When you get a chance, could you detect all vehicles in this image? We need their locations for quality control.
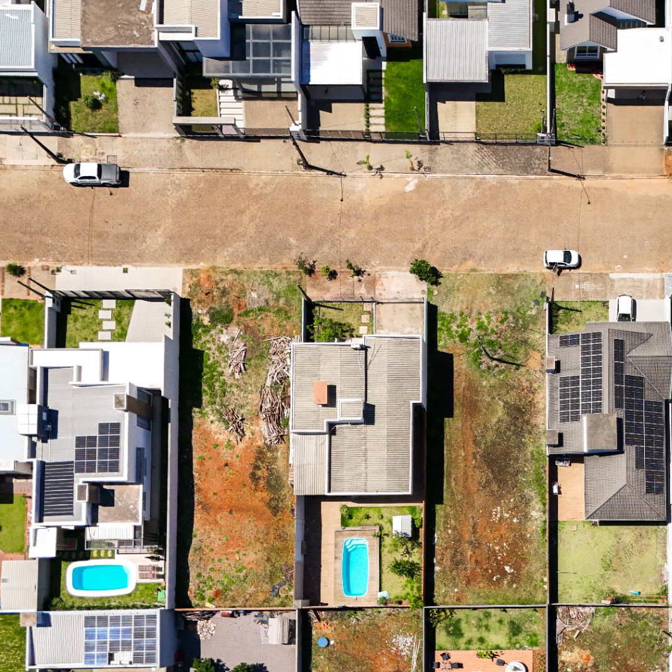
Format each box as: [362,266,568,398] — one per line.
[615,289,635,322]
[62,159,118,185]
[543,249,579,277]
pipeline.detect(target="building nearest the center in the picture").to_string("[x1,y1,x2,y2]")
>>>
[291,335,427,497]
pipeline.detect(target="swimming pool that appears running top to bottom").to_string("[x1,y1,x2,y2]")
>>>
[342,537,368,598]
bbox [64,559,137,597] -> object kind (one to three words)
swimming pool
